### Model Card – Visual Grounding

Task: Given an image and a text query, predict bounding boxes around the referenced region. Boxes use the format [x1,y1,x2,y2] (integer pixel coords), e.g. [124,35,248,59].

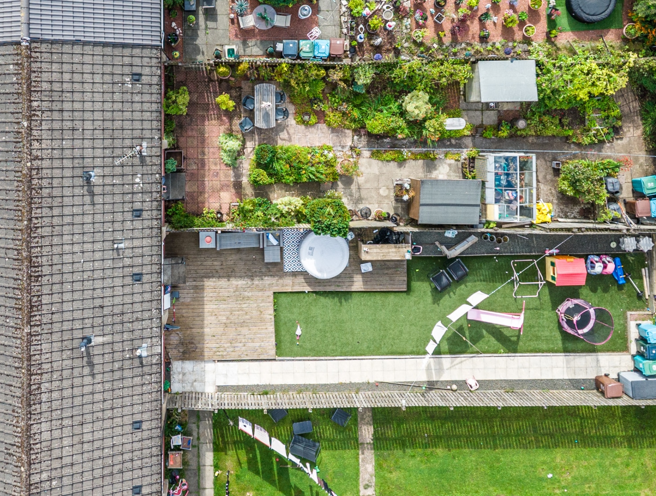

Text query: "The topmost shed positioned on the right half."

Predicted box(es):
[465,60,539,103]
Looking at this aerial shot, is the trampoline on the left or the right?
right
